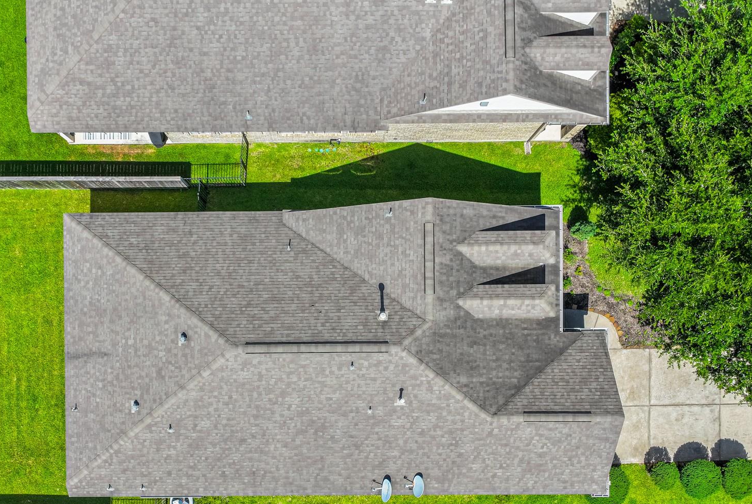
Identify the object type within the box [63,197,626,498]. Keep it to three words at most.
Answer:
house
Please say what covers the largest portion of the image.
buildings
